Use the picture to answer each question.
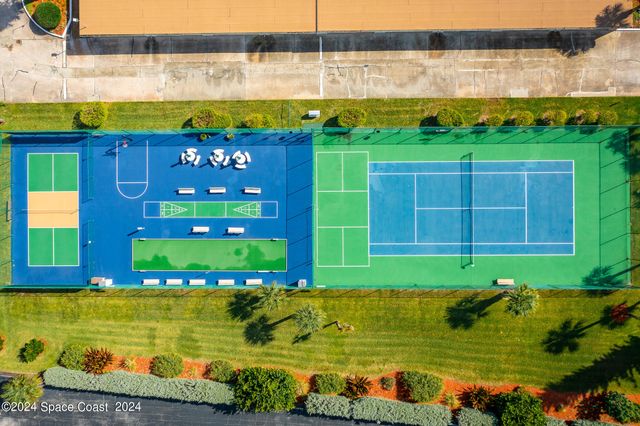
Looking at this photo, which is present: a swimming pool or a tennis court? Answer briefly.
tennis court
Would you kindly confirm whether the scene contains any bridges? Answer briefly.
No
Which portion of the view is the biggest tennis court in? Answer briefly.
right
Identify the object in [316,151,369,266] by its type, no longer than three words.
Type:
sports court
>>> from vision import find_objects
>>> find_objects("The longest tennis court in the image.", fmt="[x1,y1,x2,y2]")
[314,129,630,289]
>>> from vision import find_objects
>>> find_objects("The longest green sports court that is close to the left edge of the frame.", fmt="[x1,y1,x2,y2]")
[27,153,79,266]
